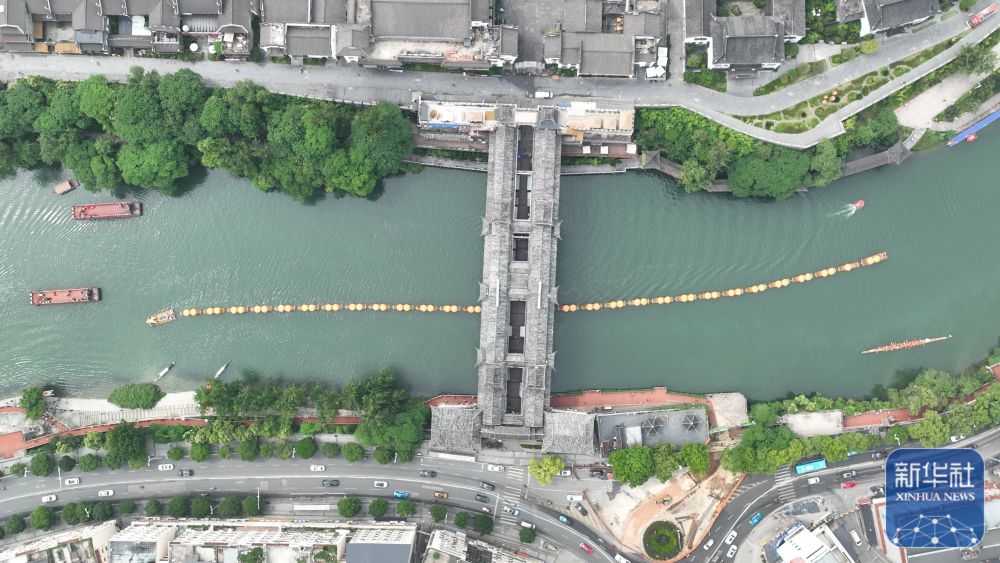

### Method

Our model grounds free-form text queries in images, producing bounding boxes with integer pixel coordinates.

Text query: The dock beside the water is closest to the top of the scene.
[949,109,1000,146]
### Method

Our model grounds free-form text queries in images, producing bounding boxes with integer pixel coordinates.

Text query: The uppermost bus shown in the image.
[964,4,995,29]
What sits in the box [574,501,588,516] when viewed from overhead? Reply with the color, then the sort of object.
gray vehicle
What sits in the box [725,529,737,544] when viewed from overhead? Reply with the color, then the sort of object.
white vehicle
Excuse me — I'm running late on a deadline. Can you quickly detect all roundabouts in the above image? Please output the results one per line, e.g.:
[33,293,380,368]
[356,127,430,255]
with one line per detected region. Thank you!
[638,516,685,562]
